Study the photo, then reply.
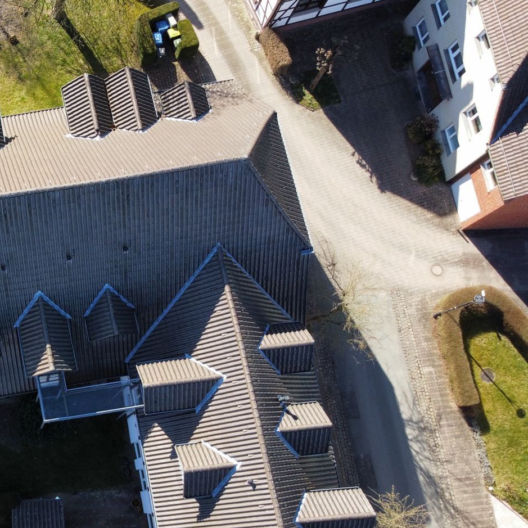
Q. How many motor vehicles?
zero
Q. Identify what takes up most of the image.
buildings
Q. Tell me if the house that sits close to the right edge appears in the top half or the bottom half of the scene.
top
